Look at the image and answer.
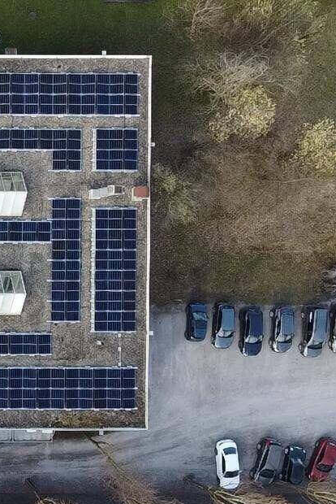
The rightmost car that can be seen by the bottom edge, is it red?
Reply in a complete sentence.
Yes, the rightmost car that can be seen by the bottom edge is indeed red.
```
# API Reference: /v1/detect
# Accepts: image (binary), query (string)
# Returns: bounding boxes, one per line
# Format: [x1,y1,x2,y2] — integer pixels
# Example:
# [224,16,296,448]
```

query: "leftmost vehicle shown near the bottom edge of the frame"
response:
[212,439,241,487]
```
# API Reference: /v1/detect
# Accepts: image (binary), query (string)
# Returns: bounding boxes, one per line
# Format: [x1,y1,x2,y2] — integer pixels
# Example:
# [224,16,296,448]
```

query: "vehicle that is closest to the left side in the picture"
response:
[185,303,209,340]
